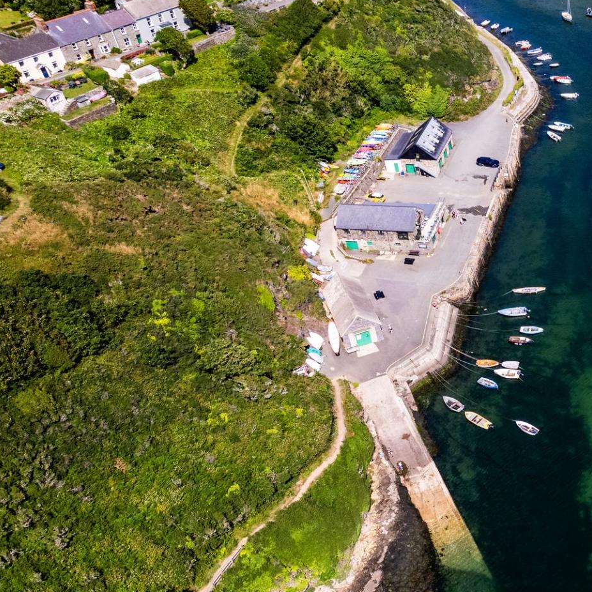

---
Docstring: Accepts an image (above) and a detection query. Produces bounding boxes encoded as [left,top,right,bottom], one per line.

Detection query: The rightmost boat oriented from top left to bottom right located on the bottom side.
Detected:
[515,420,539,438]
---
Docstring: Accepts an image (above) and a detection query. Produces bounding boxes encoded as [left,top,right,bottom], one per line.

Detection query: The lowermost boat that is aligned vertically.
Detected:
[326,318,342,358]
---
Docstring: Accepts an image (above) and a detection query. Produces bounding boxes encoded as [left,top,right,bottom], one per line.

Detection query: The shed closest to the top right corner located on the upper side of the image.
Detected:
[376,112,453,179]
